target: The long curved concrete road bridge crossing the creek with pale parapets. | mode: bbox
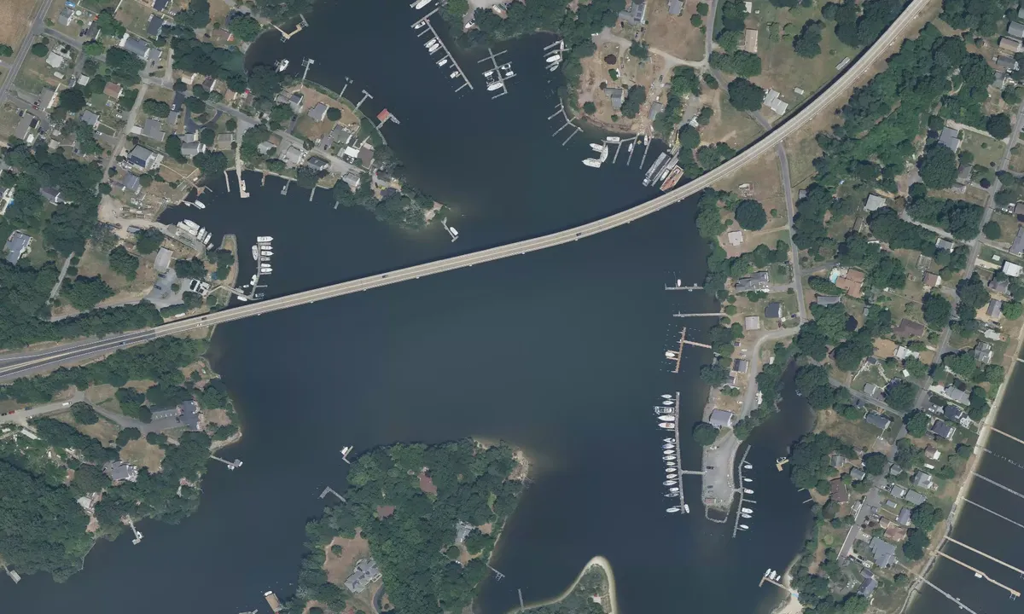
[158,0,929,338]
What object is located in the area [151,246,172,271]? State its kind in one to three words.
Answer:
shed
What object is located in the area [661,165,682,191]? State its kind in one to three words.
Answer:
ship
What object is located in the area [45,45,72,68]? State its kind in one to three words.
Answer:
house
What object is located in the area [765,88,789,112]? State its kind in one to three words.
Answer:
house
